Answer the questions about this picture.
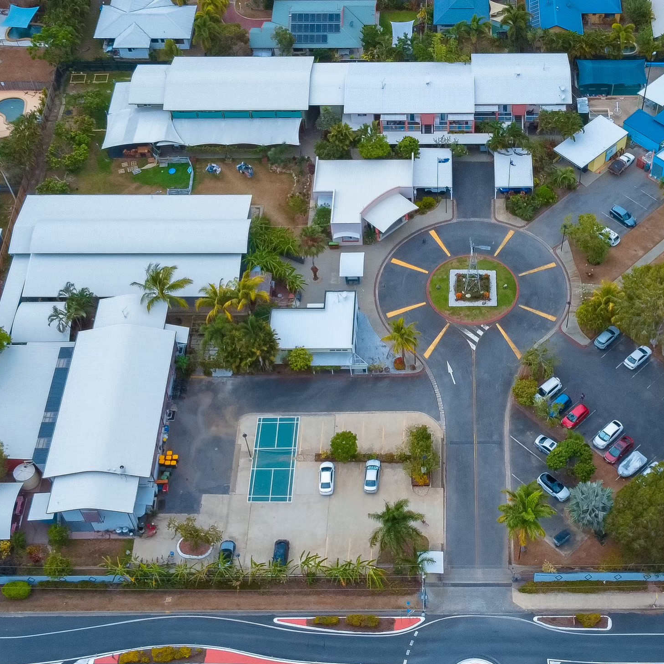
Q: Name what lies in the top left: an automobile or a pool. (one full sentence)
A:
The feature located in the top left is a pool.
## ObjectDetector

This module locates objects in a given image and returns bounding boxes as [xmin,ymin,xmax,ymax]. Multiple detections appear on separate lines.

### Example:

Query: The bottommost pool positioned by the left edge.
[0,97,27,123]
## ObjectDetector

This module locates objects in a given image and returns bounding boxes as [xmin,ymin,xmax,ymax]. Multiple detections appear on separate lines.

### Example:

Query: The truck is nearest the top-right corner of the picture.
[606,153,634,175]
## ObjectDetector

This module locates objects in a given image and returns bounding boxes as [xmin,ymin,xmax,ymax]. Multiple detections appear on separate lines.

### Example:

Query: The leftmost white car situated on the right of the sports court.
[318,461,335,496]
